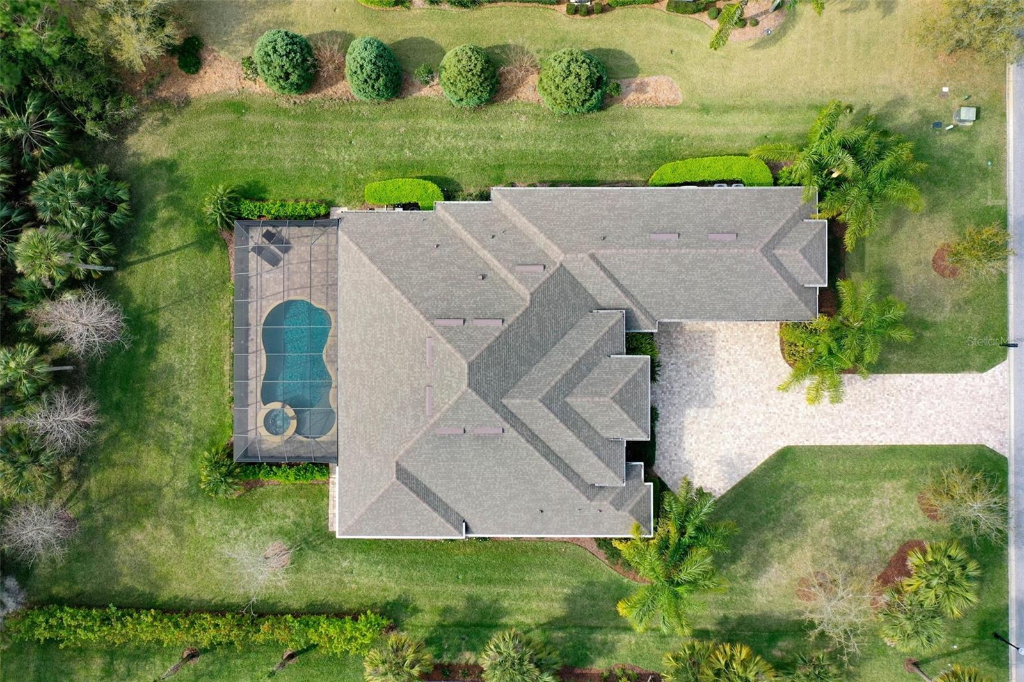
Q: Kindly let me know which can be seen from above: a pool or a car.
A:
pool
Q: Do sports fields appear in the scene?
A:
No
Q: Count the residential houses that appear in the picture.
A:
1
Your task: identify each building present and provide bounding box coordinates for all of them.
[334,185,829,540]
